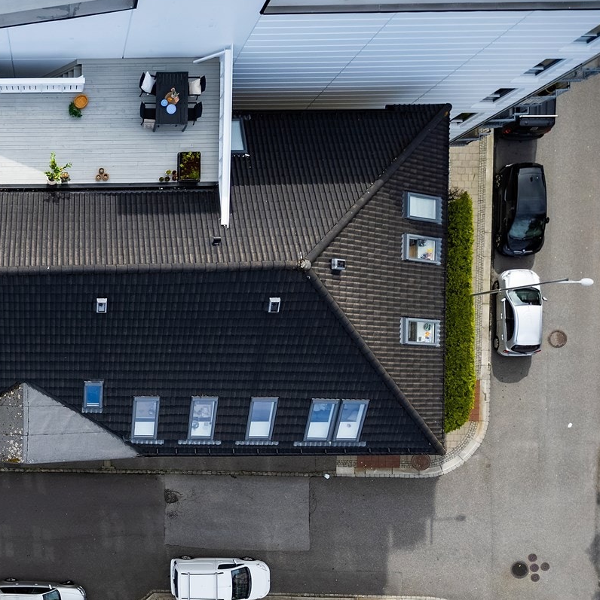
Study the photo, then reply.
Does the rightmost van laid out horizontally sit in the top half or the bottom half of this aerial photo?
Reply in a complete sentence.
It is in the bottom half that the rightmost van laid out horizontally appears.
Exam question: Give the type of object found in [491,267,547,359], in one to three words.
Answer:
car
